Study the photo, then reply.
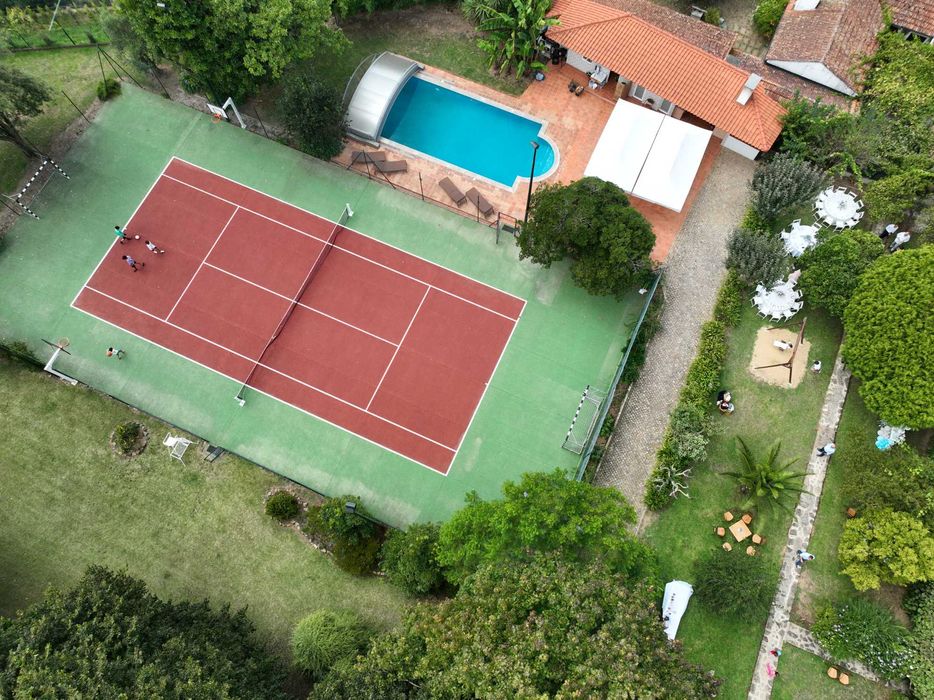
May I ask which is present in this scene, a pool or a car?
pool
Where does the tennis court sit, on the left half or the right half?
left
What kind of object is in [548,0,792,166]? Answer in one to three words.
building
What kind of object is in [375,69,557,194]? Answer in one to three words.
swimming pool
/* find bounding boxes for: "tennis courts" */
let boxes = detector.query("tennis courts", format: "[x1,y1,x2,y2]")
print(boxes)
[0,80,649,562]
